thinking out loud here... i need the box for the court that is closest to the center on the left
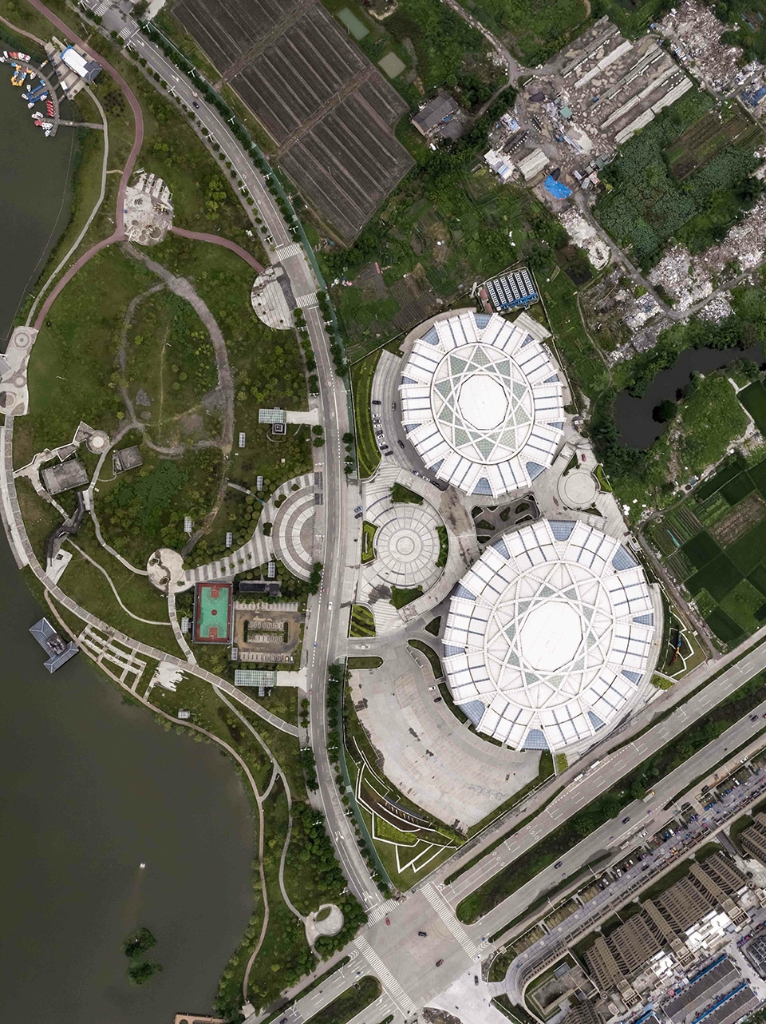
[188,582,233,645]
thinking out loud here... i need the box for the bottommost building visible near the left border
[24,616,78,675]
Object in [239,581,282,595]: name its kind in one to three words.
house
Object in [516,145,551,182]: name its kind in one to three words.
shed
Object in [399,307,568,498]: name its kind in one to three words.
building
